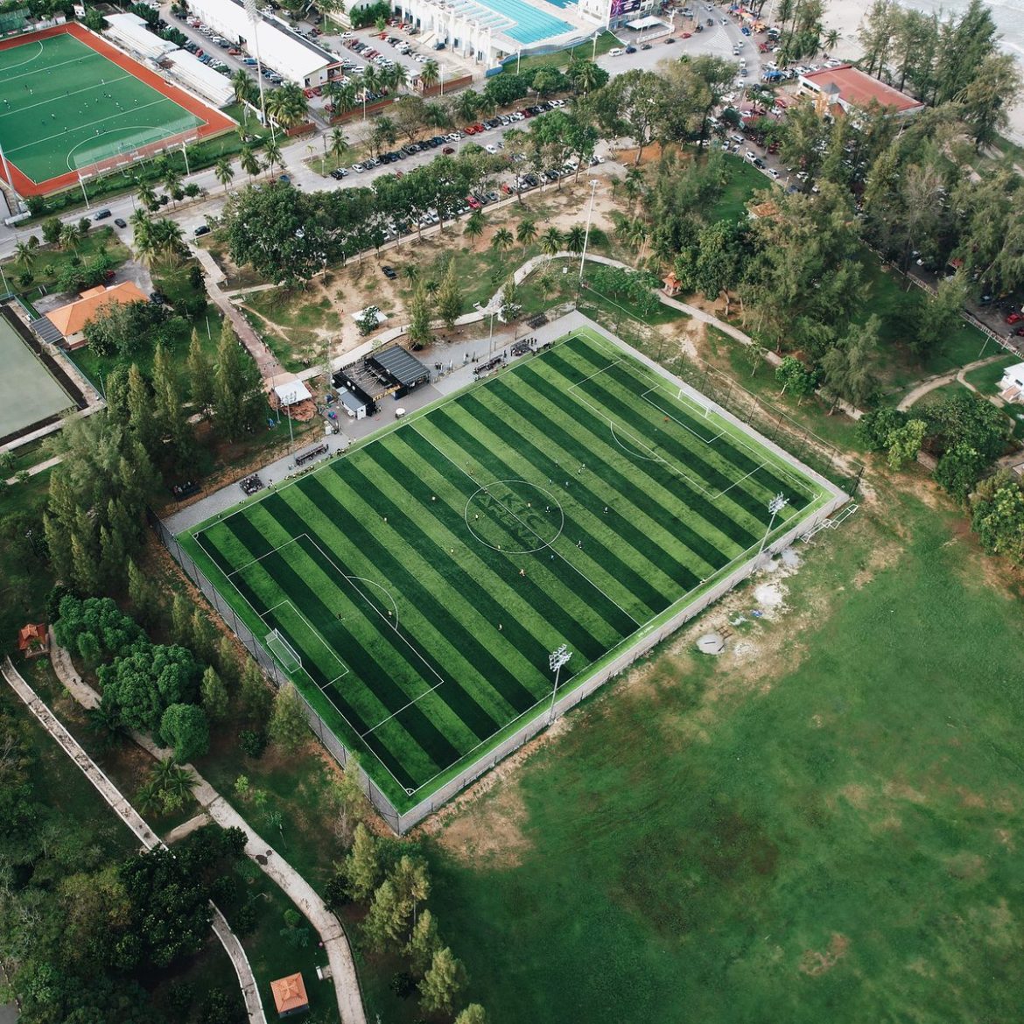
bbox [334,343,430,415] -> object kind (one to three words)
building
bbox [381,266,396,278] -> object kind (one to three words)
vehicle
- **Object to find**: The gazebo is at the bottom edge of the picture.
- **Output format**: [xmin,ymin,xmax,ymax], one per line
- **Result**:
[270,974,310,1024]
